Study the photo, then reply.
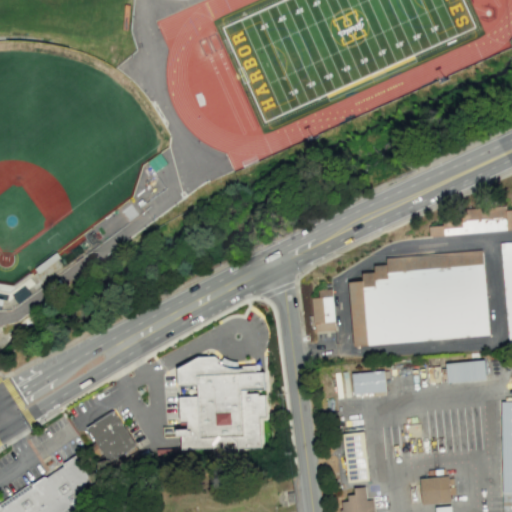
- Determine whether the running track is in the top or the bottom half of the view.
top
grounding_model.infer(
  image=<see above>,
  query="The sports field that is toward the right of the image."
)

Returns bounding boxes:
[214,0,485,134]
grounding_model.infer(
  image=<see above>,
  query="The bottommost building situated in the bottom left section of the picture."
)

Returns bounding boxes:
[0,454,94,512]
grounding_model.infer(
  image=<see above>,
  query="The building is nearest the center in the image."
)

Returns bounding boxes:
[312,289,338,334]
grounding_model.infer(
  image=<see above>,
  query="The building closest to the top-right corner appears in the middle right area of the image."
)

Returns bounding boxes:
[428,206,512,238]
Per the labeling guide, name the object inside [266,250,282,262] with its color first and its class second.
white vehicle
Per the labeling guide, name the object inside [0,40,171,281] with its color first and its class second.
green baseball field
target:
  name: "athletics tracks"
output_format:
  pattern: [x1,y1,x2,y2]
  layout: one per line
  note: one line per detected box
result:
[158,0,512,170]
